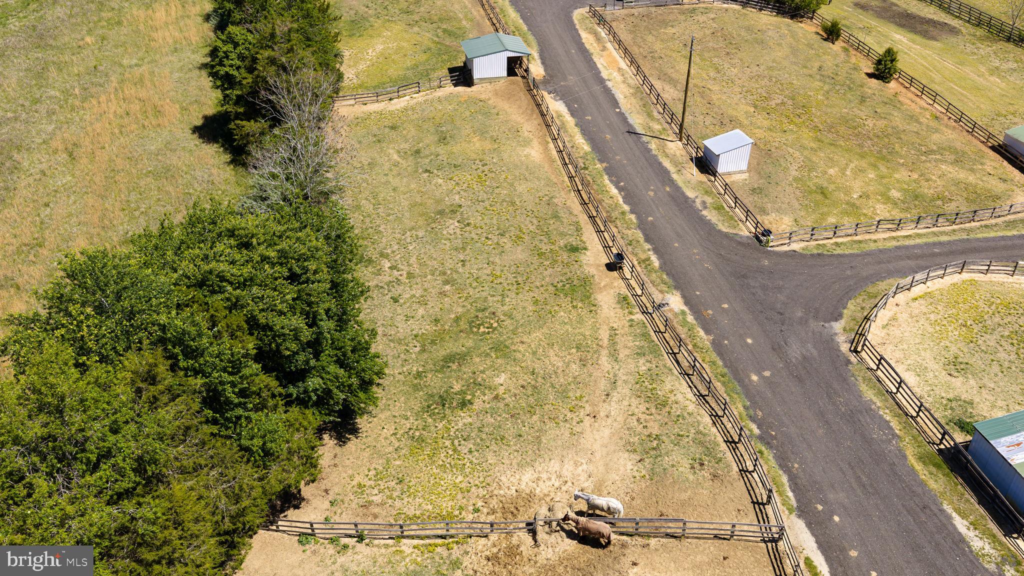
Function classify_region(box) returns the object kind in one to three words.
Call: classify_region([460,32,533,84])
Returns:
shed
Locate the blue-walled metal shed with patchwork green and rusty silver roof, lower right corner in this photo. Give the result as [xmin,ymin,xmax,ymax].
[971,410,1024,511]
